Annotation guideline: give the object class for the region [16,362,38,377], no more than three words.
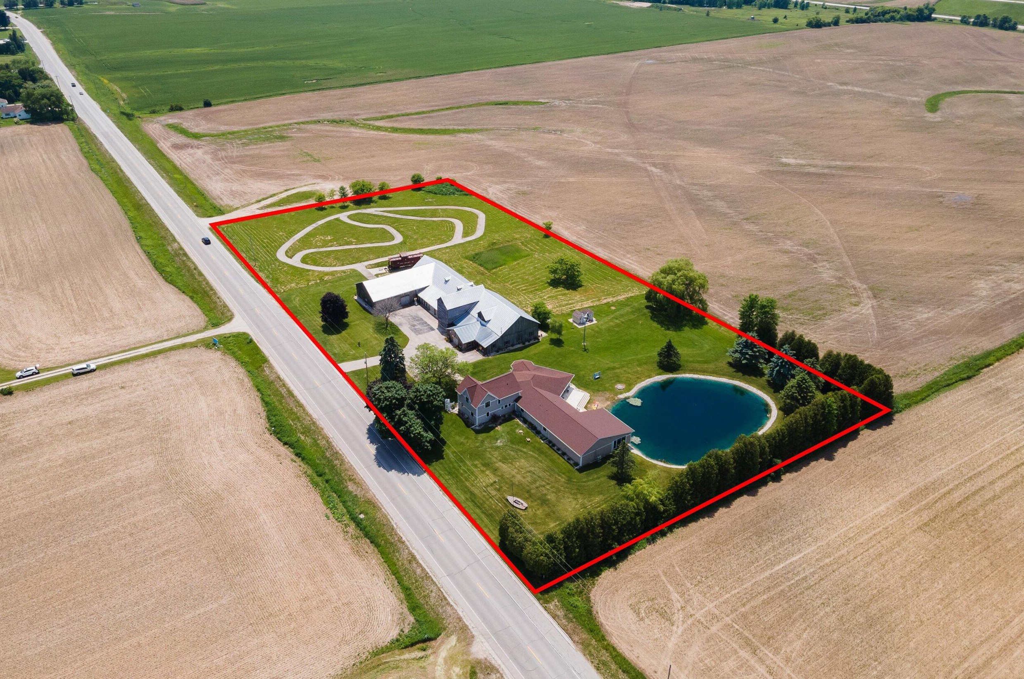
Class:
car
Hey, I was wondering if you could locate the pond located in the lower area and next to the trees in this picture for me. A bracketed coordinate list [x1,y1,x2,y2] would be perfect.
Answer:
[608,377,771,465]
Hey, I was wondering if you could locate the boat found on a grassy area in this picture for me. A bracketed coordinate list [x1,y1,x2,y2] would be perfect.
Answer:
[509,496,529,512]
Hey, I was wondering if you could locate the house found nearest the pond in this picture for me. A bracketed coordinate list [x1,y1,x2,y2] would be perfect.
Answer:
[454,359,634,469]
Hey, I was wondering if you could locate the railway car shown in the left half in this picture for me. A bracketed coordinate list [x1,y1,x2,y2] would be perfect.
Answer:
[387,251,420,269]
